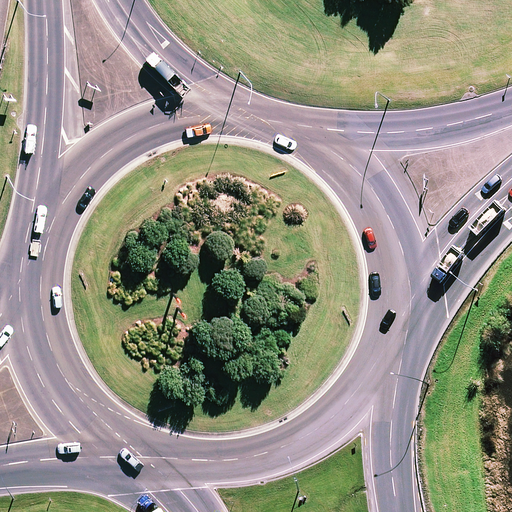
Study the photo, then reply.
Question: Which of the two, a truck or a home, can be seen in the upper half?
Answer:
truck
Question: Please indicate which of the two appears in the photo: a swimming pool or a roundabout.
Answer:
roundabout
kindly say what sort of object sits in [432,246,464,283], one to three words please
truck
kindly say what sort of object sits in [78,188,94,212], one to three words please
car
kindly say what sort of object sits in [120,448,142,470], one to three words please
truck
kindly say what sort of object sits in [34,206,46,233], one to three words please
vehicle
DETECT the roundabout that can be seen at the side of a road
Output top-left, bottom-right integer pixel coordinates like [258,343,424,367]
[22,93,410,482]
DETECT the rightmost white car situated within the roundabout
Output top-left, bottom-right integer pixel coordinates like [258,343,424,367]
[274,134,297,149]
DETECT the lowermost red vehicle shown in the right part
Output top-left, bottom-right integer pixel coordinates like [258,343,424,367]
[365,226,378,248]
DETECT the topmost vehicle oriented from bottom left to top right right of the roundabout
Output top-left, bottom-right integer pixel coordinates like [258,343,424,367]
[482,174,502,194]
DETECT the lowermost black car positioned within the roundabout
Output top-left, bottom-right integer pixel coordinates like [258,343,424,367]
[381,308,396,330]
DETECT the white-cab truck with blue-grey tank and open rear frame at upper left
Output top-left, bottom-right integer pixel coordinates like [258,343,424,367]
[145,50,190,96]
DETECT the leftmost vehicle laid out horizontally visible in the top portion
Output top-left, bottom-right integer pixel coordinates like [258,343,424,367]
[186,124,211,137]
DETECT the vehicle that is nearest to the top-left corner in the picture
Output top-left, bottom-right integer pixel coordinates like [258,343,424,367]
[24,124,38,153]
